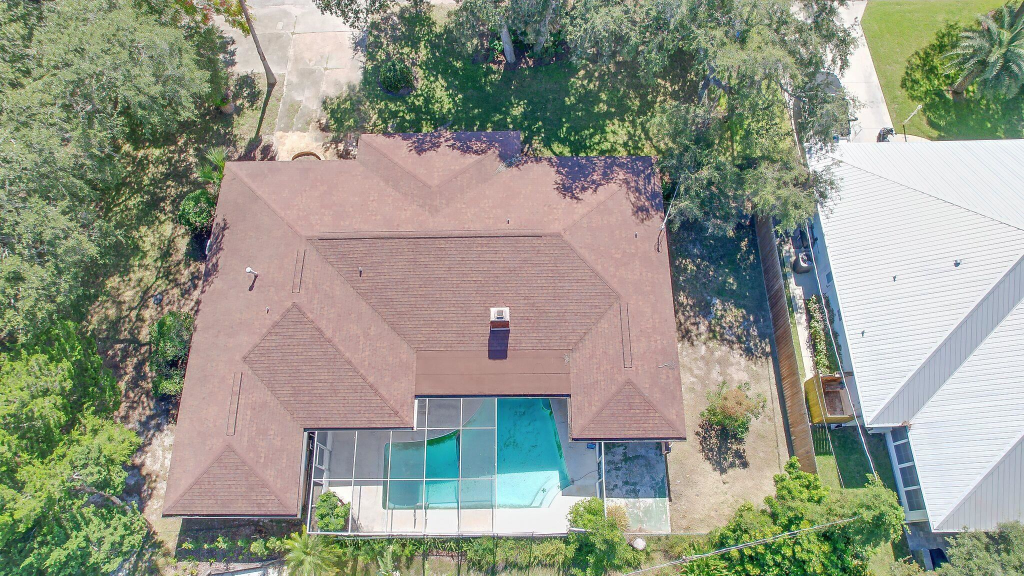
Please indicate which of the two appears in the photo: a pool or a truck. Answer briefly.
pool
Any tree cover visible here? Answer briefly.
Yes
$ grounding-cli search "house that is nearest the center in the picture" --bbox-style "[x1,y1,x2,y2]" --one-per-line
[162,132,685,522]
